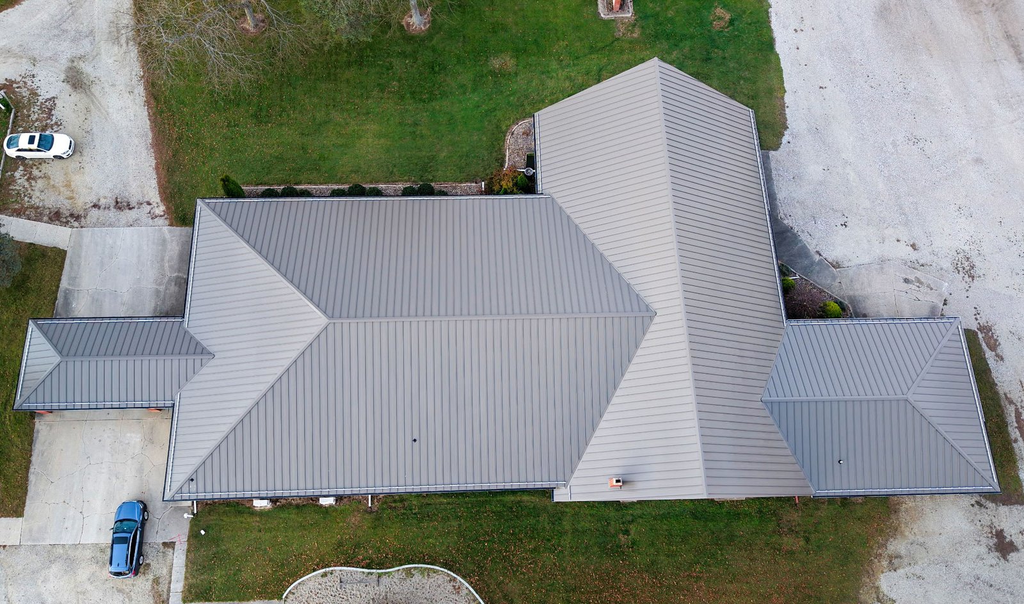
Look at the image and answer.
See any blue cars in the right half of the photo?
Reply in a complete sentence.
No, looking in the right half of the photo, there is no blue car.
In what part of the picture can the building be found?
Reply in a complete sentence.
The building sits in the center section of the image.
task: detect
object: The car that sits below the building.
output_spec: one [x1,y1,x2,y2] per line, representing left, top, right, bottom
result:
[105,500,148,578]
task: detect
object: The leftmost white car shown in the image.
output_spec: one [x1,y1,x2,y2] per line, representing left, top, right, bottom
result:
[3,128,77,159]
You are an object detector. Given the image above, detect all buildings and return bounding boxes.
[11,57,1002,504]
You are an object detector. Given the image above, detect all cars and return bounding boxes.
[3,128,77,159]
[105,500,148,578]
